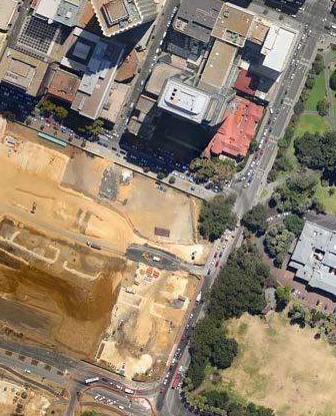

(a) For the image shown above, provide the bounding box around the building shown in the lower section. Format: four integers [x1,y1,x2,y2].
[288,222,336,295]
